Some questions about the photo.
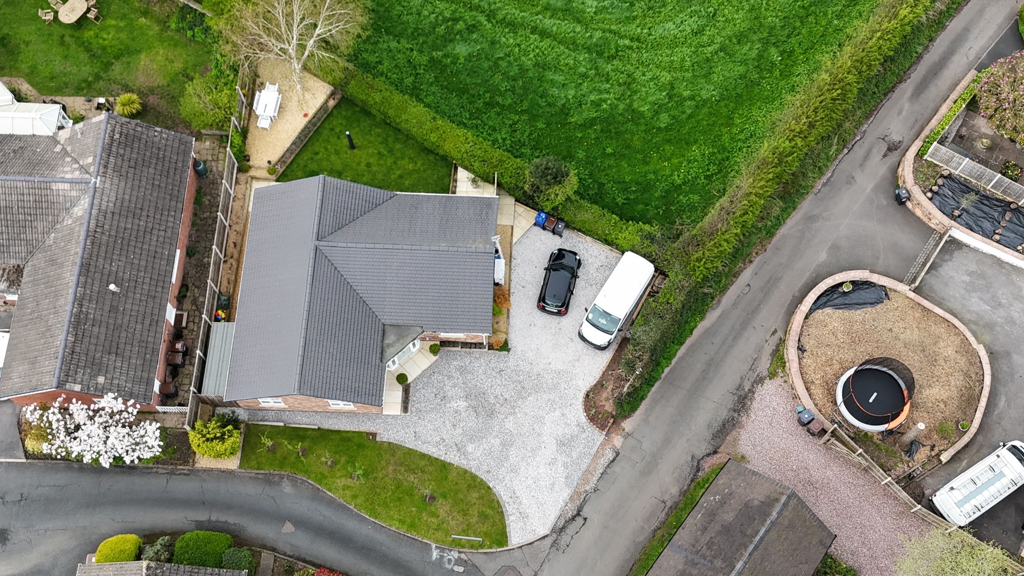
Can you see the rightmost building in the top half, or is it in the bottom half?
bottom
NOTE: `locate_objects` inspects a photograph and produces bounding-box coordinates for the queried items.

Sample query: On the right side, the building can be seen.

[645,457,840,576]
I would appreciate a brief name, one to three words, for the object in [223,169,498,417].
house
